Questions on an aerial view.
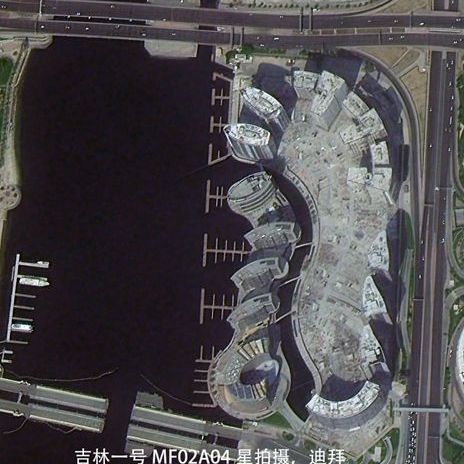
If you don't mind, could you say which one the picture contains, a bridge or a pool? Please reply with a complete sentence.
Visible in the photo is a bridge.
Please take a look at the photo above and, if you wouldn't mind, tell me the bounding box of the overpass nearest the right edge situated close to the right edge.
[422,14,464,49]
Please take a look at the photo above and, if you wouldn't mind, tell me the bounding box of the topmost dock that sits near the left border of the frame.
[0,254,48,344]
